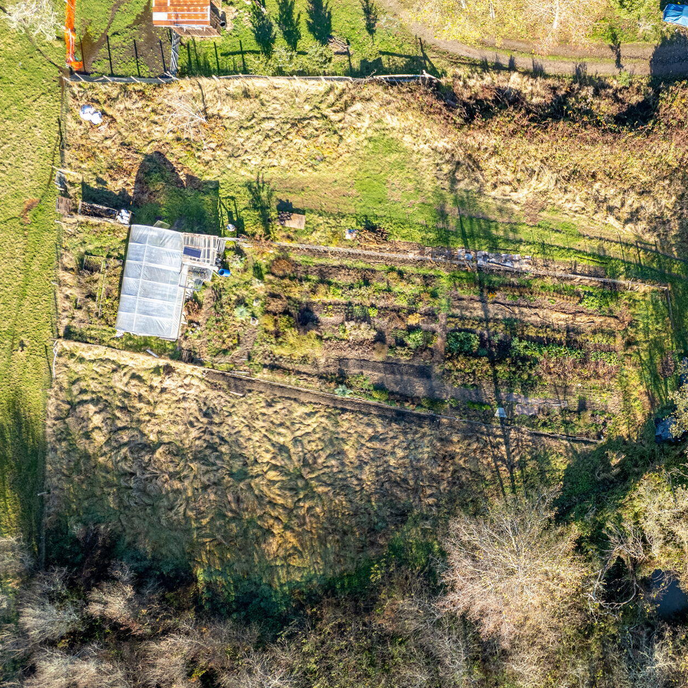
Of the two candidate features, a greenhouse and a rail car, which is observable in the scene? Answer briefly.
greenhouse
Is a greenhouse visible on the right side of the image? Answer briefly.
No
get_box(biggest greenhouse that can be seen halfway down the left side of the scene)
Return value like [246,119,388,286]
[121,223,187,340]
